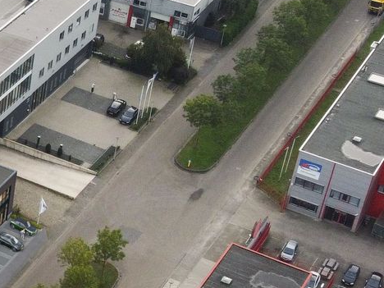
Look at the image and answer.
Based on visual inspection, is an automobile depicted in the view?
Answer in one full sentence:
Yes, the picture does show an automobile.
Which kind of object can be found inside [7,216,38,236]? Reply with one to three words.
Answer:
car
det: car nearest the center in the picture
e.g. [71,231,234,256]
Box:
[119,106,138,126]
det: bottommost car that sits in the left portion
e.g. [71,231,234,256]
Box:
[0,234,27,254]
